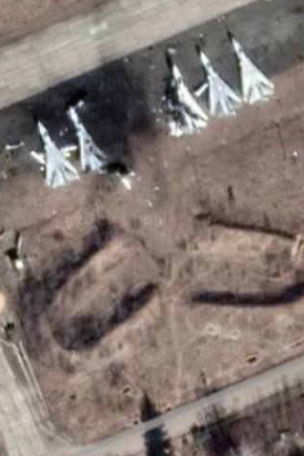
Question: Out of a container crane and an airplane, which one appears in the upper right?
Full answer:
Visible in the upper right is an airplane.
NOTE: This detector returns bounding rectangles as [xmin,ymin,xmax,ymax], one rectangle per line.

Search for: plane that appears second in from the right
[201,53,241,116]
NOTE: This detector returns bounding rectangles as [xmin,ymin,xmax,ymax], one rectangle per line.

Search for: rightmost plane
[232,40,273,103]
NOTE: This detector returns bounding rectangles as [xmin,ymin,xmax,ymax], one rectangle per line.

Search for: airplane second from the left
[71,107,110,171]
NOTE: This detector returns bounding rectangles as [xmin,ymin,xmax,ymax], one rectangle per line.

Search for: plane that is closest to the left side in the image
[39,119,77,186]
